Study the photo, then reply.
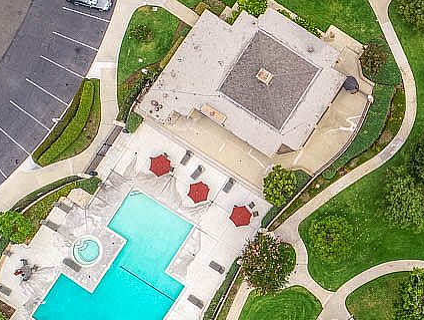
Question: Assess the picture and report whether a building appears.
Yes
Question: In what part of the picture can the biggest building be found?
top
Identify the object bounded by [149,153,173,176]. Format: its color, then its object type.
red umbrella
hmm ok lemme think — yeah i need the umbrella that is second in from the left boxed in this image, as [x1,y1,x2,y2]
[186,180,209,204]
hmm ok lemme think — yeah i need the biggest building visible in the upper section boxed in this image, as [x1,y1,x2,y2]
[134,8,346,158]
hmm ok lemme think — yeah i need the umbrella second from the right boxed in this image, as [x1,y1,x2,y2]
[229,204,252,227]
